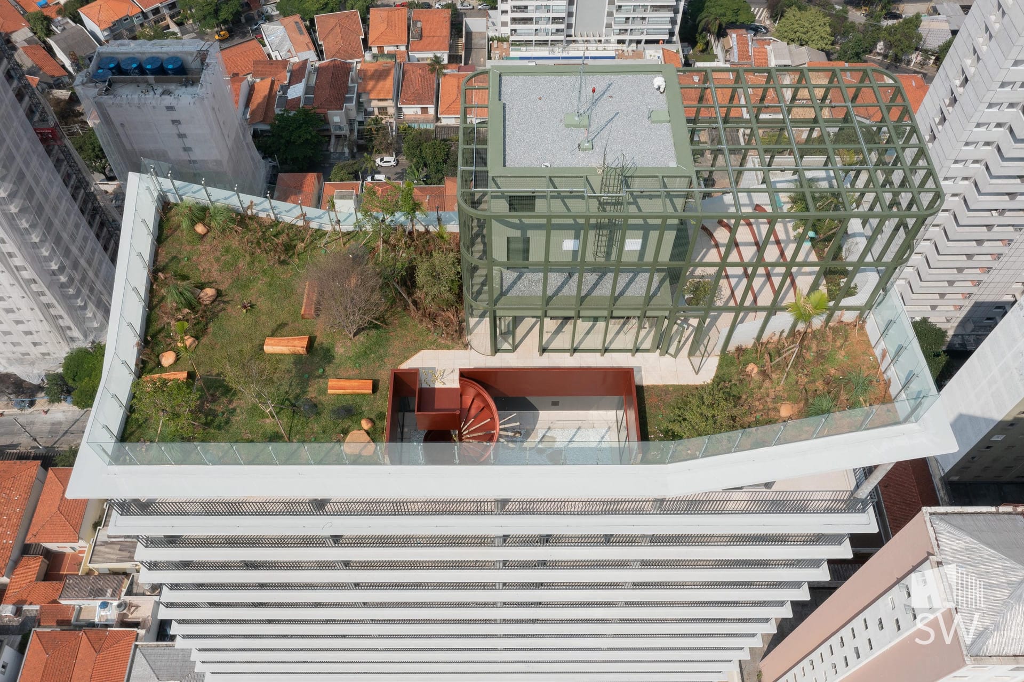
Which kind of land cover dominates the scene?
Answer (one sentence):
The bulk of the photo consists of buildings.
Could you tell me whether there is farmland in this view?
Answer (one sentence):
No, farmland can't be seen anywhere here.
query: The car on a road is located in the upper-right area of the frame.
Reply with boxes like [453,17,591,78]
[749,20,770,33]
